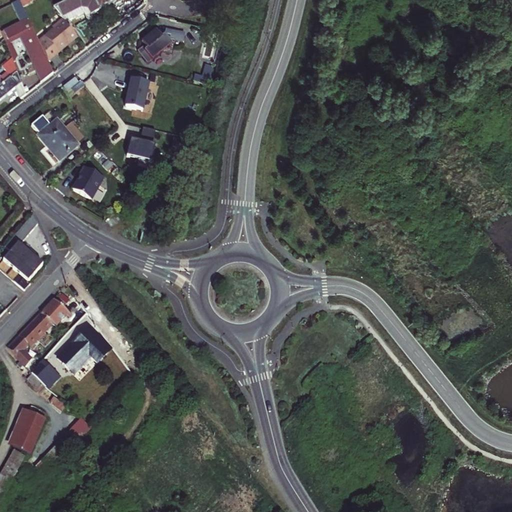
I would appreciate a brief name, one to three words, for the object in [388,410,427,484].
pond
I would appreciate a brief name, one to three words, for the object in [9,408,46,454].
barn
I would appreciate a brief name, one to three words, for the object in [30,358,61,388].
building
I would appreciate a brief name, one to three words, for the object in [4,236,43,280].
house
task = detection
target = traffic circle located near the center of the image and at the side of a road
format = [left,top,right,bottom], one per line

[142,200,328,386]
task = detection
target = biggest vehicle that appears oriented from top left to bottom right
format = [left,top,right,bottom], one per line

[10,169,25,186]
